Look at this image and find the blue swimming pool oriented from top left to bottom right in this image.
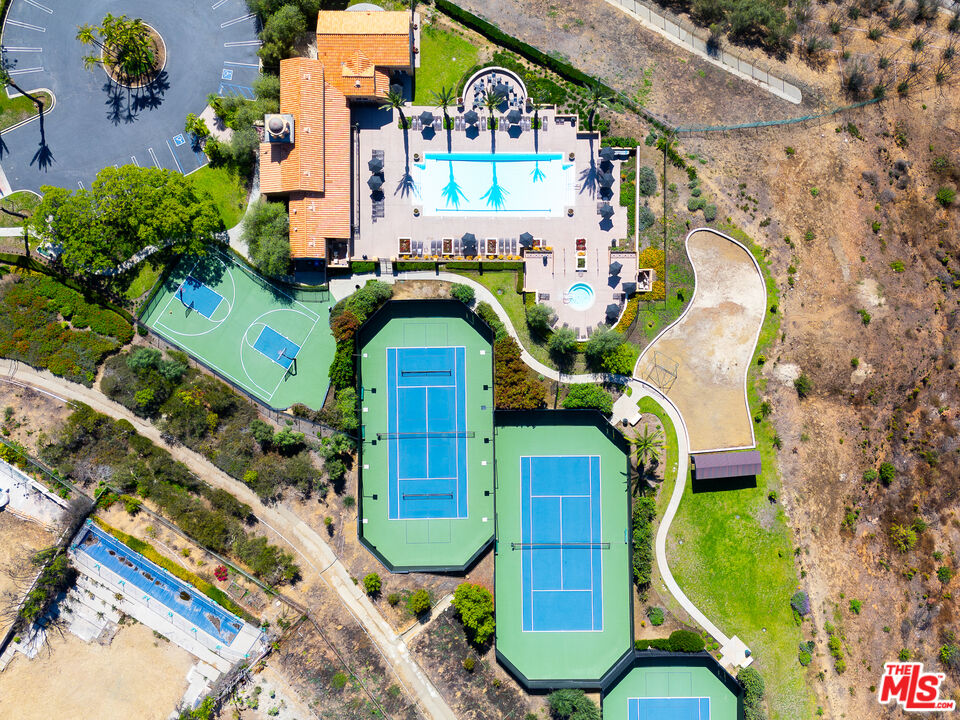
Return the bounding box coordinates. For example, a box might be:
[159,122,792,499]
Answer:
[72,526,245,648]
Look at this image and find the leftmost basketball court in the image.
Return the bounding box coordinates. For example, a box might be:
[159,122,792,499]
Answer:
[141,249,337,411]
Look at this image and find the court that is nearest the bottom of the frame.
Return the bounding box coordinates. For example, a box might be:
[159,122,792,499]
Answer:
[602,668,738,720]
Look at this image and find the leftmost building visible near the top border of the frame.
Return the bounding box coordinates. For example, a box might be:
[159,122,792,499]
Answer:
[259,10,412,270]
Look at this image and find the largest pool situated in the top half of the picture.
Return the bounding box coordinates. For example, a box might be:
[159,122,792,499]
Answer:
[412,152,581,217]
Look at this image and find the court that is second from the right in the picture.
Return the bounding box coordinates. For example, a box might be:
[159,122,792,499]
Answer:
[496,412,631,680]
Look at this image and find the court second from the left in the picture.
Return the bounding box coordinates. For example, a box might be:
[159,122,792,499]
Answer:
[360,302,494,567]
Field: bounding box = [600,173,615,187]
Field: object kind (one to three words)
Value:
umbrella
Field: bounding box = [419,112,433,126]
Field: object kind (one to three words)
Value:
umbrella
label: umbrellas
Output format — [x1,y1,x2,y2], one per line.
[518,232,533,246]
[419,112,433,126]
[462,232,475,247]
[464,111,478,125]
[368,158,382,172]
[601,146,613,160]
[507,109,520,124]
[622,281,637,295]
[608,262,622,275]
[601,203,614,218]
[600,173,615,187]
[368,175,382,190]
[492,82,510,98]
[606,305,620,318]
